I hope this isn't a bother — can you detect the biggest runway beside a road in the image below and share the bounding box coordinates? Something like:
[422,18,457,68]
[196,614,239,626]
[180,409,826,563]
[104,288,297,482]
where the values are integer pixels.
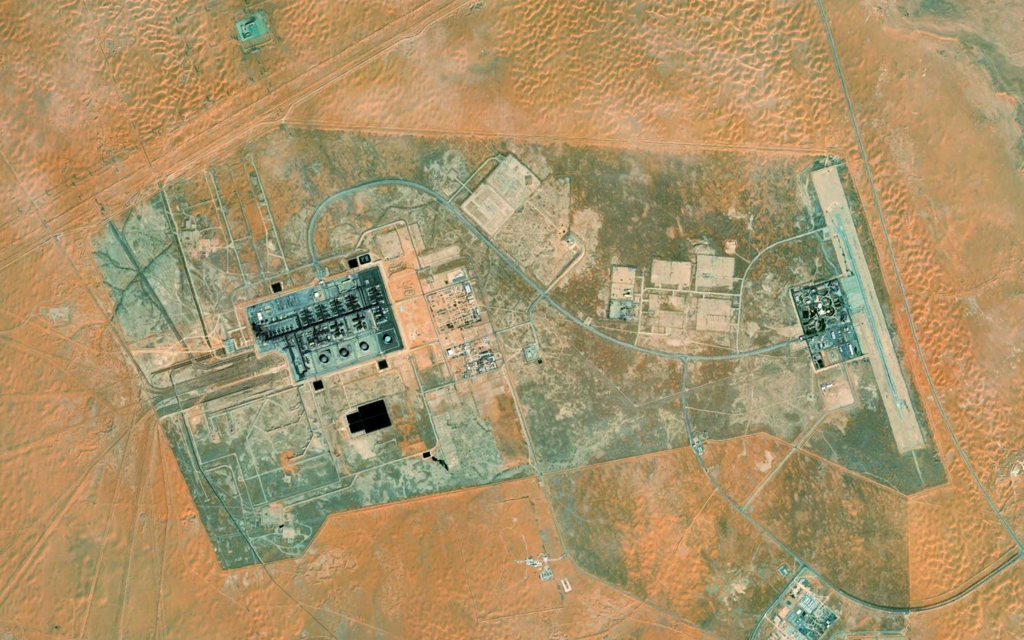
[811,167,924,453]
